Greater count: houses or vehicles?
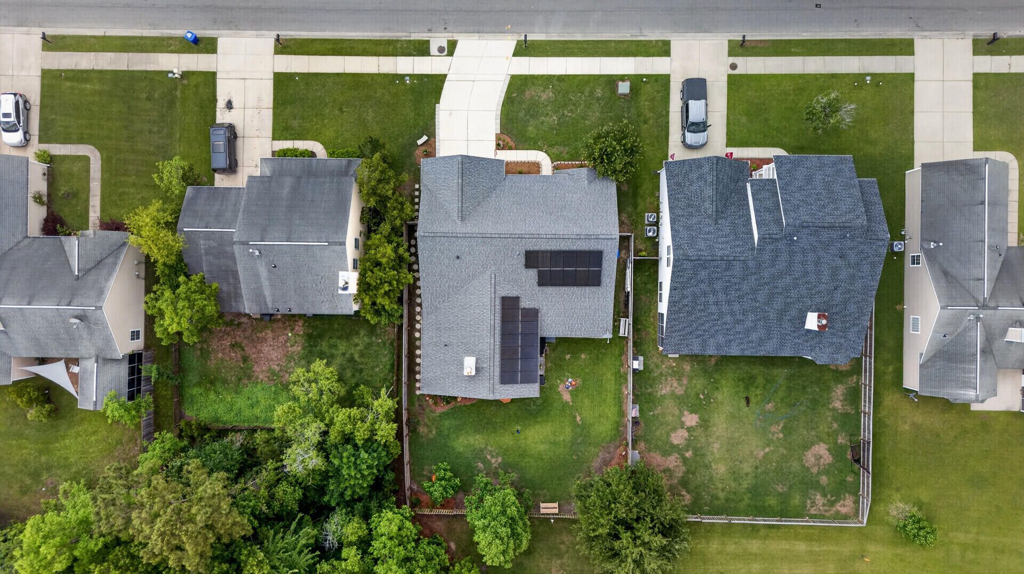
houses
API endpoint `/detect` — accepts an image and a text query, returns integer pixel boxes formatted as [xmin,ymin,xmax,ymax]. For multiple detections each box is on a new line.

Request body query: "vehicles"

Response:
[1,92,35,147]
[680,79,711,148]
[209,123,239,176]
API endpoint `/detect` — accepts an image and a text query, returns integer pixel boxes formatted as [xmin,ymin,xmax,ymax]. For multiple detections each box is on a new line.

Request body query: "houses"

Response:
[0,155,145,411]
[416,153,619,398]
[658,155,889,365]
[177,157,368,314]
[902,157,1024,413]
